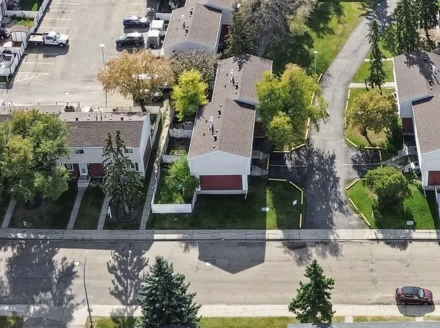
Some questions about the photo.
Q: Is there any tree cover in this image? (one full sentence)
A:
Yes, there's tree cover in this view.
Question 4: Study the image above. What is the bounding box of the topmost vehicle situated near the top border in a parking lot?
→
[121,15,149,29]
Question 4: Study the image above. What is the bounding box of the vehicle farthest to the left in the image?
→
[30,33,68,48]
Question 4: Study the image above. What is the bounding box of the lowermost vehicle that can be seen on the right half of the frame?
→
[393,286,437,308]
